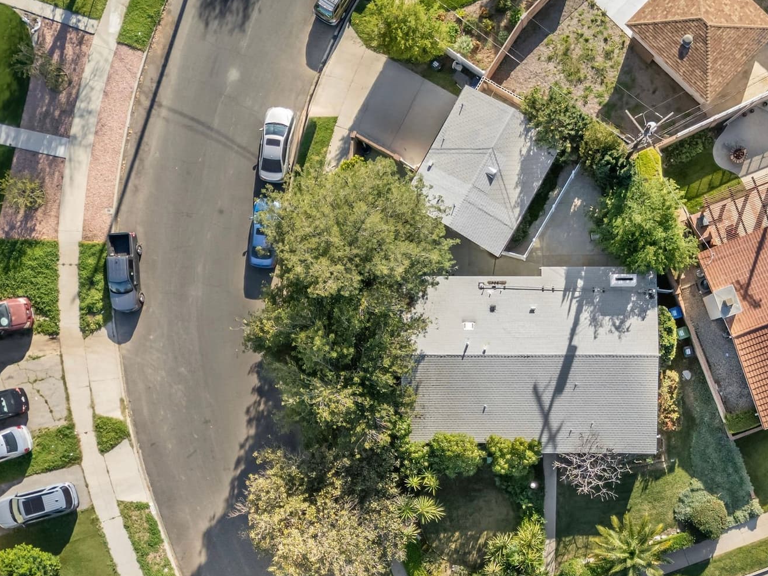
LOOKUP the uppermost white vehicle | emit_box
[255,107,292,182]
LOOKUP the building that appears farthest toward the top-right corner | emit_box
[624,0,768,104]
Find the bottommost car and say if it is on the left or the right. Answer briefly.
left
